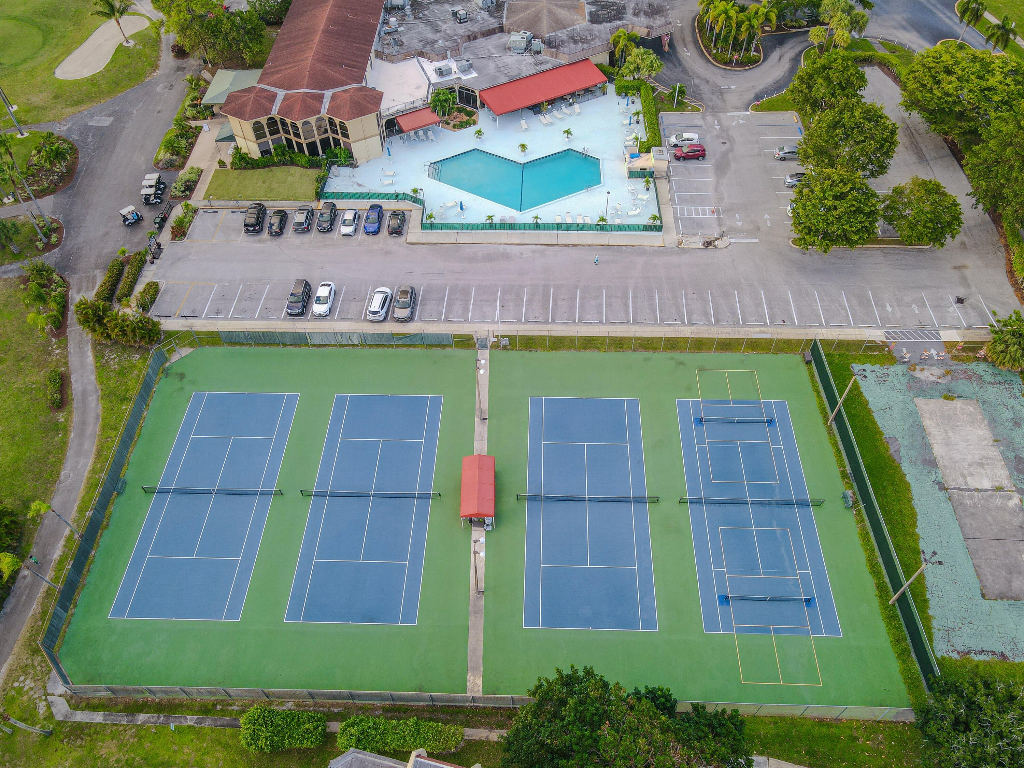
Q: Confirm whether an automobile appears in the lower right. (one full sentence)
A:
No, no automobile is visible in the lower right.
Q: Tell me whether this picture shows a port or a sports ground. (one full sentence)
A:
The picture captures a sports ground.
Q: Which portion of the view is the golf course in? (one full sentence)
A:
The golf course is in the top left part of the image.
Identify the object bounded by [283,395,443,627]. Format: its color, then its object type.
blue tennis court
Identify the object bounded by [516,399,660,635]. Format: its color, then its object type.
blue tennis court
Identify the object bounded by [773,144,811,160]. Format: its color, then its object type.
gray car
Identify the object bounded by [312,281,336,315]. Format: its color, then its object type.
white car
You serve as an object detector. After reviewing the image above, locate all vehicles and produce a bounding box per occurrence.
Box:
[118,205,142,226]
[267,207,289,234]
[292,202,315,230]
[145,173,166,189]
[339,207,360,235]
[312,281,336,315]
[674,143,708,161]
[365,285,390,320]
[387,208,406,234]
[783,170,810,186]
[243,203,268,231]
[392,283,415,320]
[669,131,702,147]
[773,144,811,160]
[140,188,162,206]
[285,275,311,313]
[363,204,383,233]
[315,199,337,229]
[142,179,163,195]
